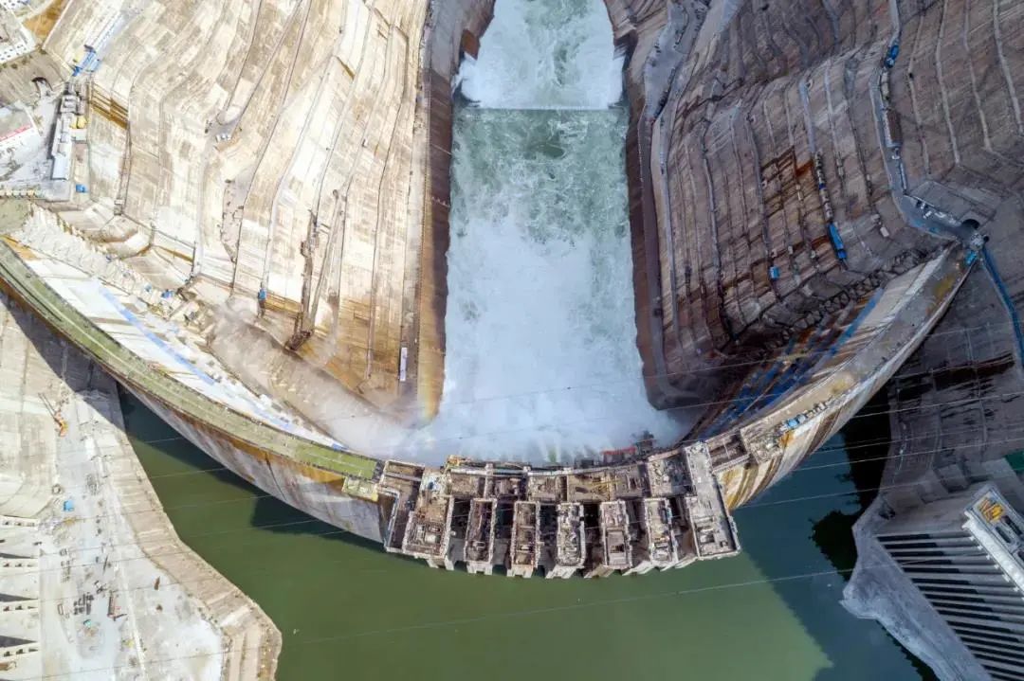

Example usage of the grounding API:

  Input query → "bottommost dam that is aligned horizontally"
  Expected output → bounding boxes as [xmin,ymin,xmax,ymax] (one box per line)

[0,233,975,579]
